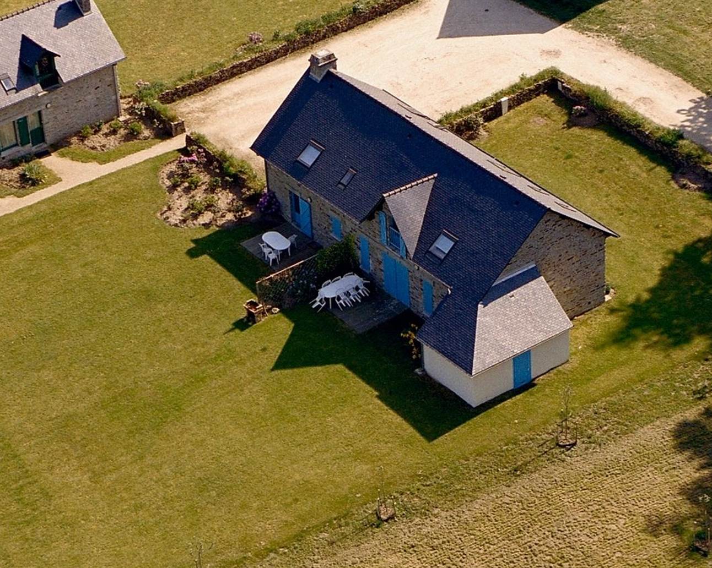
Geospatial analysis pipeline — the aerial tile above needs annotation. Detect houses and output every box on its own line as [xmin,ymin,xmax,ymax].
[250,45,616,408]
[0,0,126,167]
